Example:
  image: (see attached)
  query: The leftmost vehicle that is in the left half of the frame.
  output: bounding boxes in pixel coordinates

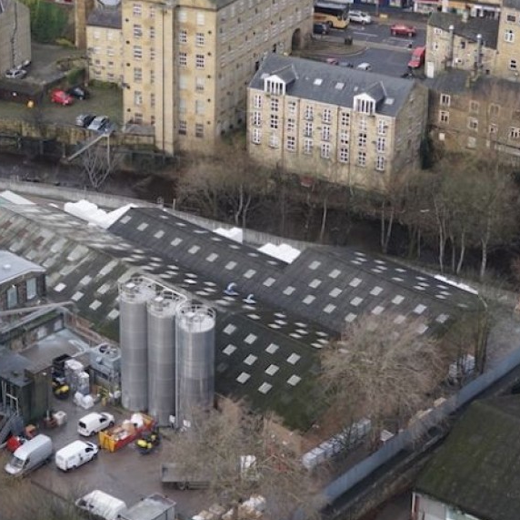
[3,426,57,478]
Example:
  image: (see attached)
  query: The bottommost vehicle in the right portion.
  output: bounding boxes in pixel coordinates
[407,43,428,67]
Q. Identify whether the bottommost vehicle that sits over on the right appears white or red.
red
